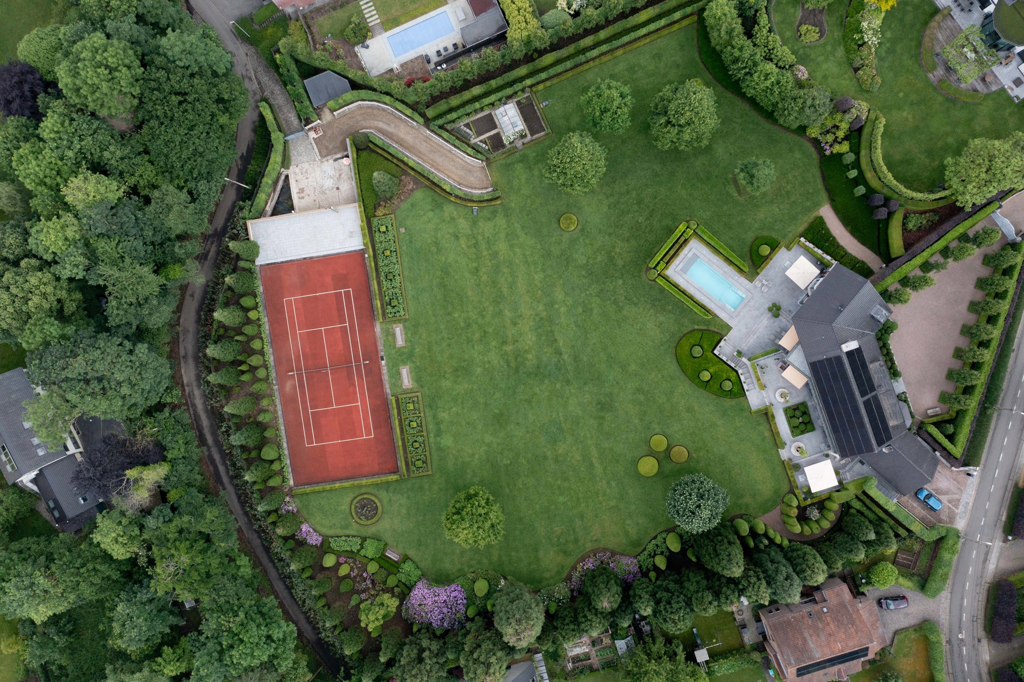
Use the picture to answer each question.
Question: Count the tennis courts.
1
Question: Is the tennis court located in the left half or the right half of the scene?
left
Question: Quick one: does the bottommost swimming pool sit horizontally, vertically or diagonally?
diagonally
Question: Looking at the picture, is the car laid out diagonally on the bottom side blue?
Yes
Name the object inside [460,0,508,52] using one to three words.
building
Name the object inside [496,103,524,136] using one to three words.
greenhouse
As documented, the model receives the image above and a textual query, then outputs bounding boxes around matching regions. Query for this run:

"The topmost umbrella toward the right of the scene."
[783,255,820,290]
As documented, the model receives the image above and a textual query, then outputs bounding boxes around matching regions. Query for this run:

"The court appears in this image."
[257,249,402,489]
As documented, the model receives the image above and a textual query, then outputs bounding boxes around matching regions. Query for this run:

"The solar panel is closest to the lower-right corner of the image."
[797,648,869,673]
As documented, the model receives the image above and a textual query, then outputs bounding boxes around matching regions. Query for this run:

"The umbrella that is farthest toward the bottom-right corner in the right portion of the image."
[798,459,838,493]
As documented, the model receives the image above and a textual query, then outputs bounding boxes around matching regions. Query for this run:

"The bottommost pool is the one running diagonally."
[672,245,755,321]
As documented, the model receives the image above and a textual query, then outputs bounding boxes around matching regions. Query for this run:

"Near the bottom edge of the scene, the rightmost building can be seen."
[756,580,888,682]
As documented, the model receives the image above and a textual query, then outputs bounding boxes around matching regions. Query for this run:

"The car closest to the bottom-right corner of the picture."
[878,595,909,611]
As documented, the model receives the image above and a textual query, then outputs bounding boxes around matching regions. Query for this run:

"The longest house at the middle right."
[779,263,940,500]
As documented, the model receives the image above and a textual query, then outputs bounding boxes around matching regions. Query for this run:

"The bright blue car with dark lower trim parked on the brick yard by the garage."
[915,488,946,513]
